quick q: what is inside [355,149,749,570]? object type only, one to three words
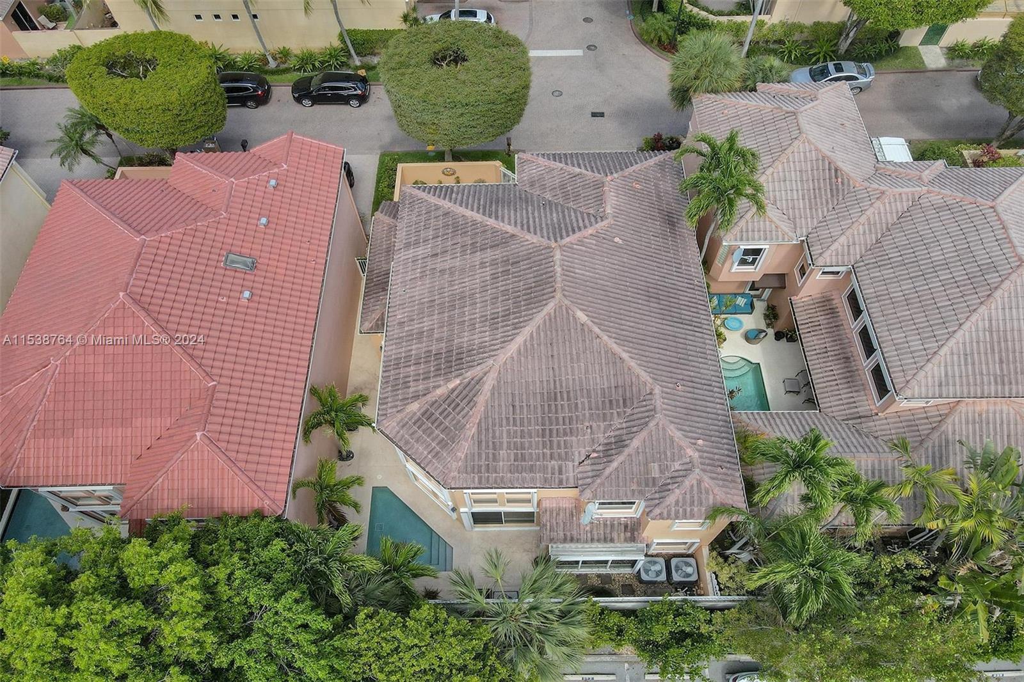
house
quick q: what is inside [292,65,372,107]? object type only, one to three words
car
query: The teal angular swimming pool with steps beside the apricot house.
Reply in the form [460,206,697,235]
[365,486,454,575]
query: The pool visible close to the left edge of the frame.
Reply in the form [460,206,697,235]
[0,493,86,580]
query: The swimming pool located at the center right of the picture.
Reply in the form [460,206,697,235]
[722,358,772,427]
